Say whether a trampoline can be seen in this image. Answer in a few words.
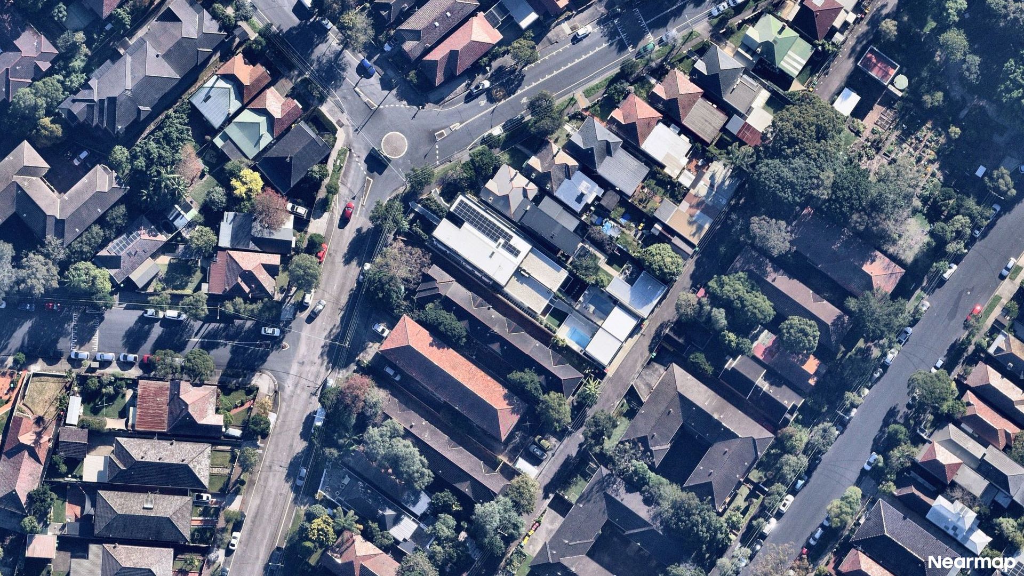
No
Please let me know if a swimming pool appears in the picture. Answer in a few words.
Yes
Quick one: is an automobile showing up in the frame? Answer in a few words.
Yes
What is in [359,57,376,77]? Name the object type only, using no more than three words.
car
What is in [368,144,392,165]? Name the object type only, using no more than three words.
truck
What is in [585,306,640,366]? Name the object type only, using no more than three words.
building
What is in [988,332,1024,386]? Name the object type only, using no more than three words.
house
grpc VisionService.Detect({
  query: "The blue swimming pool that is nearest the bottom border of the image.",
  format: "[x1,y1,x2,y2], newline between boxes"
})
[565,325,592,350]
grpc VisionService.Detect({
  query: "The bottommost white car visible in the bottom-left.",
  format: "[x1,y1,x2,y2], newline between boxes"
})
[228,530,241,551]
